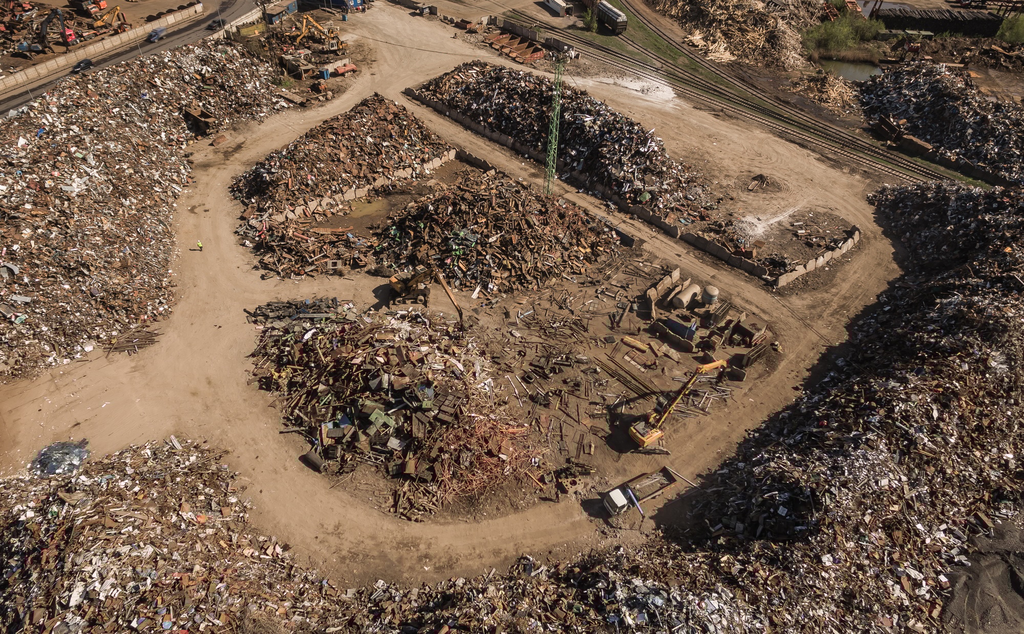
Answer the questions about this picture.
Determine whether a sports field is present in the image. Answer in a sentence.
No, no sports field is visible in the scene.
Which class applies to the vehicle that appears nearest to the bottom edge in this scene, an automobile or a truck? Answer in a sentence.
What you see as the vehicle that appears nearest to the bottom edge is a truck.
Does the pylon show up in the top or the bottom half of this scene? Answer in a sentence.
You can find the pylon in the top half.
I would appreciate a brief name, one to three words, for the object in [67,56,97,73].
car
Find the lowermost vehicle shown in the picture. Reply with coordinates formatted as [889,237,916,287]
[603,456,691,519]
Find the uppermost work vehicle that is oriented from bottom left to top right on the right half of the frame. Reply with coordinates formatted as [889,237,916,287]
[627,361,729,459]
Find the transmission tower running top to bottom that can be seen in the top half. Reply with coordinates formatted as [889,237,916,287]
[258,0,280,75]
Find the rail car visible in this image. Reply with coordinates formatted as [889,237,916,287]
[583,0,624,30]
